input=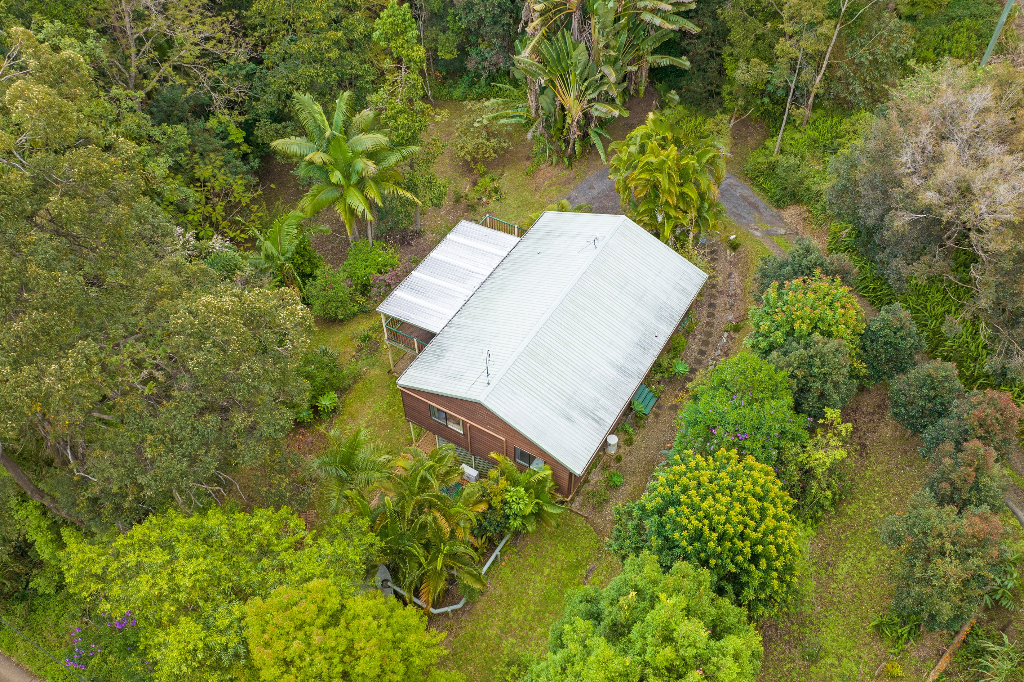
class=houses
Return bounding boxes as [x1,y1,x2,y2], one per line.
[374,212,708,502]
